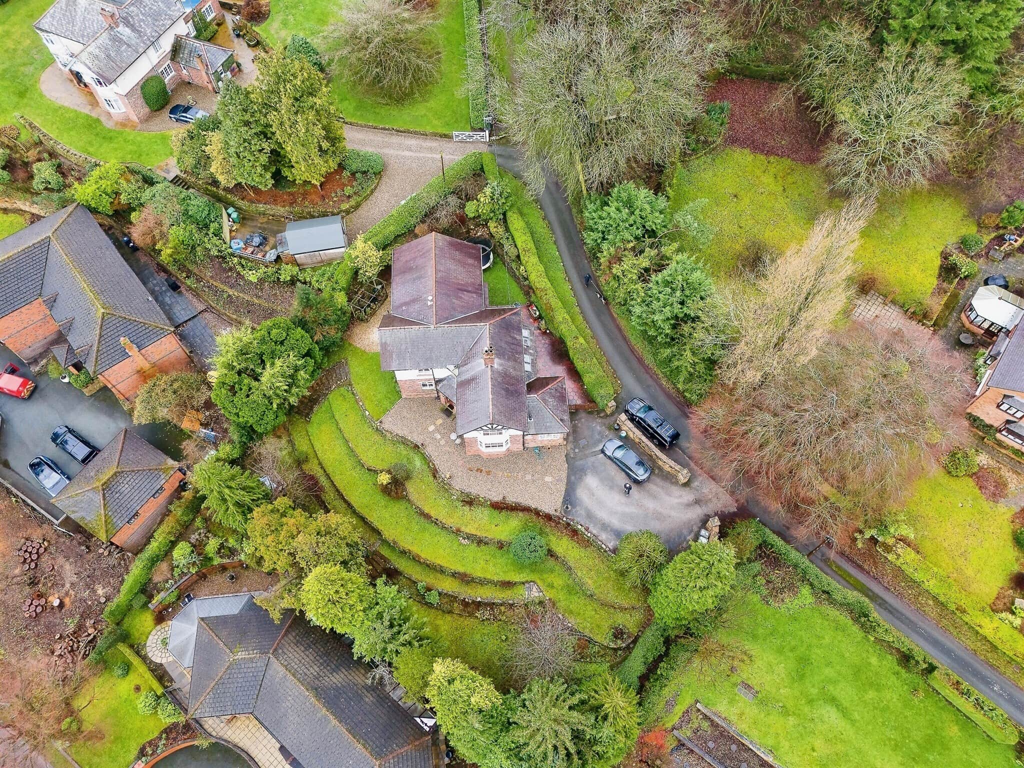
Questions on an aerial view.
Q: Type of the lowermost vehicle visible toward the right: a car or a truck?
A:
car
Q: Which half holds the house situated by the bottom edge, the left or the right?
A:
left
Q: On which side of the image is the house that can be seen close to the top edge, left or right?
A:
left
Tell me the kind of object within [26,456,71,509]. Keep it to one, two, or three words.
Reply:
car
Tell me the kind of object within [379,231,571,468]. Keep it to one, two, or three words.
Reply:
house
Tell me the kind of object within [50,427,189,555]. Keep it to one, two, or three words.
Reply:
building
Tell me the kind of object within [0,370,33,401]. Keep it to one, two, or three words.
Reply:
van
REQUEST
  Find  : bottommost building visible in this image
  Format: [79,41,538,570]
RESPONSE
[168,593,443,768]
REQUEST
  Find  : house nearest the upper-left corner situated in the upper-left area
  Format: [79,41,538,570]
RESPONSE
[21,0,239,129]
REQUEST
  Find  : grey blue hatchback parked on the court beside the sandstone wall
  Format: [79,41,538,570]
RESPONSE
[600,436,659,489]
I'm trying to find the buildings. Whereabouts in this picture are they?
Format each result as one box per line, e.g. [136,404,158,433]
[0,202,189,397]
[379,231,571,468]
[21,0,239,129]
[168,593,443,768]
[285,216,350,269]
[50,427,189,555]
[958,285,1024,447]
